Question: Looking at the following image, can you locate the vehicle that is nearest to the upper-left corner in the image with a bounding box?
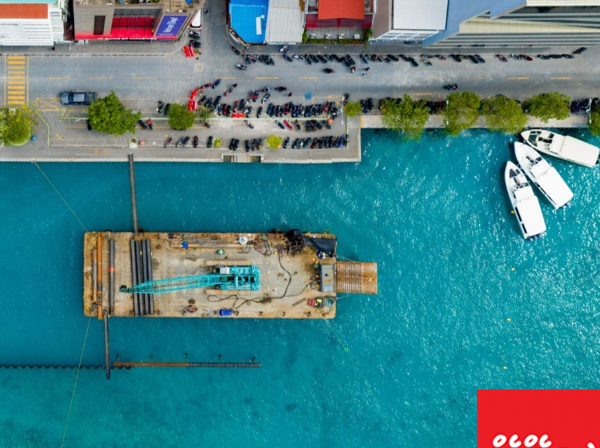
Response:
[60,89,94,105]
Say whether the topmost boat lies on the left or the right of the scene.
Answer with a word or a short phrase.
right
